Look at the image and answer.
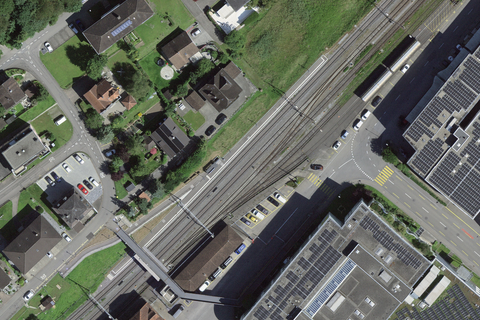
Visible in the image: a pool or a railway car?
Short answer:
railway car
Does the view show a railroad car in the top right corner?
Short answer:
Yes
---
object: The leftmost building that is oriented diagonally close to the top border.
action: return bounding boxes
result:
[82,0,155,54]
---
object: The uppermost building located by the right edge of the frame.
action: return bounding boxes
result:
[401,42,480,218]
